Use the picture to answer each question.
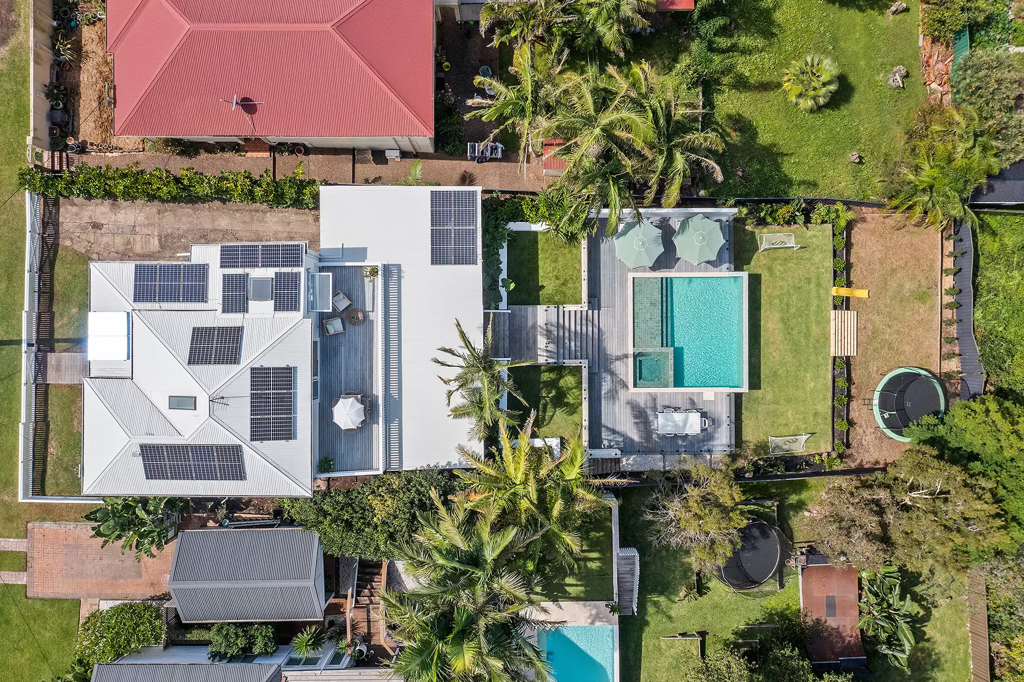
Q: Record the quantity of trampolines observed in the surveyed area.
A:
2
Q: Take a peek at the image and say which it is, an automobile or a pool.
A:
pool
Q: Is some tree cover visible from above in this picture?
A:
Yes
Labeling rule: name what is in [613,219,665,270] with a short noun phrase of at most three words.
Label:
umbrella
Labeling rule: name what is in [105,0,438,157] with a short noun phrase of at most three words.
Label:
house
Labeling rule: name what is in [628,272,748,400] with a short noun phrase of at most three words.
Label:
swimming pool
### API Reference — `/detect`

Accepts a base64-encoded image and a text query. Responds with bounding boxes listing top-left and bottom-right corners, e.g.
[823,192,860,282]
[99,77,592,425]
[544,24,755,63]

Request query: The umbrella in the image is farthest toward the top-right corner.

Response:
[671,213,724,266]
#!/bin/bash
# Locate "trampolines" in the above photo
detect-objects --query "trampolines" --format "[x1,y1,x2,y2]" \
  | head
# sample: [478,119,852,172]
[712,515,794,598]
[854,367,959,443]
